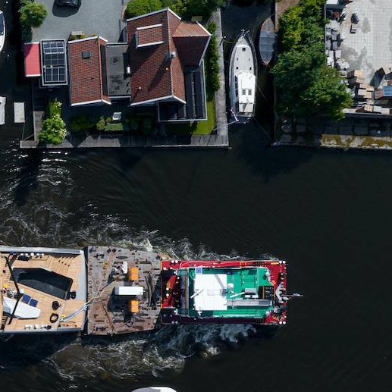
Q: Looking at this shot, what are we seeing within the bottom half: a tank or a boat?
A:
boat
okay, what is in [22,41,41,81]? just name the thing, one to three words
shed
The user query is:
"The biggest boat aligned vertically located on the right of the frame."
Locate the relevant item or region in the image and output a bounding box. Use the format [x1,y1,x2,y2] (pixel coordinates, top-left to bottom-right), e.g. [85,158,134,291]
[232,28,263,125]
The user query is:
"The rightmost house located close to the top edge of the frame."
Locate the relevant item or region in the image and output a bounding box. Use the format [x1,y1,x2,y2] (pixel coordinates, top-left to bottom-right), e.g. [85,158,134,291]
[120,8,212,125]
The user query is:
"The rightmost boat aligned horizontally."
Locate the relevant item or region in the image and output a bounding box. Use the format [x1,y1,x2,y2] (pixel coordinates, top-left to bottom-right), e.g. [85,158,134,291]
[155,259,302,325]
